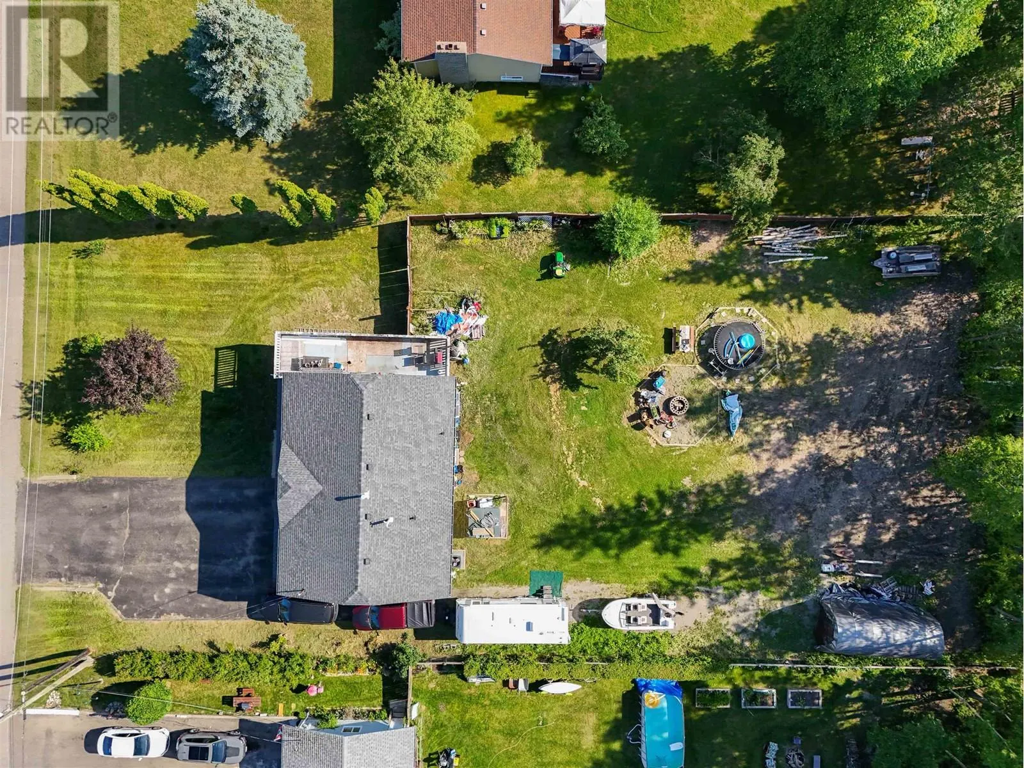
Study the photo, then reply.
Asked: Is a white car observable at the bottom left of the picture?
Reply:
Yes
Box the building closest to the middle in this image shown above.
[274,373,459,608]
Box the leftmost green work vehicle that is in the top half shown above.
[551,250,571,278]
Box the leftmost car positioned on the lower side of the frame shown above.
[99,721,173,760]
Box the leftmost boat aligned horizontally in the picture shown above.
[537,678,581,695]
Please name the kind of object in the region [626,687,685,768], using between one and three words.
swimming pool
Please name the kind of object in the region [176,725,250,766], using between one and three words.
car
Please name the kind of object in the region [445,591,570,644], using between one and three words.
camper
